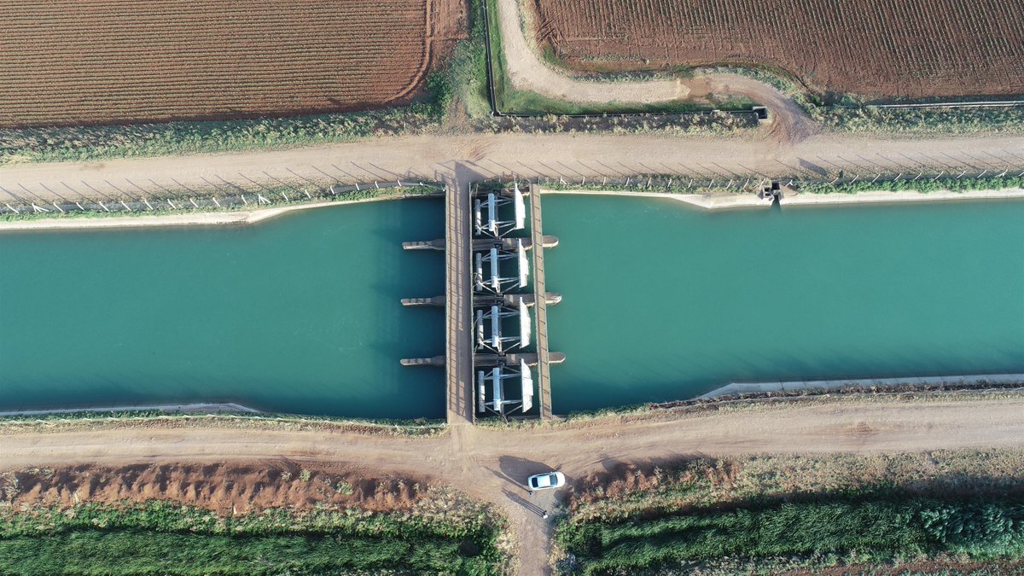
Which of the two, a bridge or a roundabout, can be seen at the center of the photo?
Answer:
bridge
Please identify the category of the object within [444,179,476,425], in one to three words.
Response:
bridge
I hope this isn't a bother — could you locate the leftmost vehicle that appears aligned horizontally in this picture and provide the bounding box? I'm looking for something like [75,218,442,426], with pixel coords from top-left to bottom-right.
[528,471,566,490]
